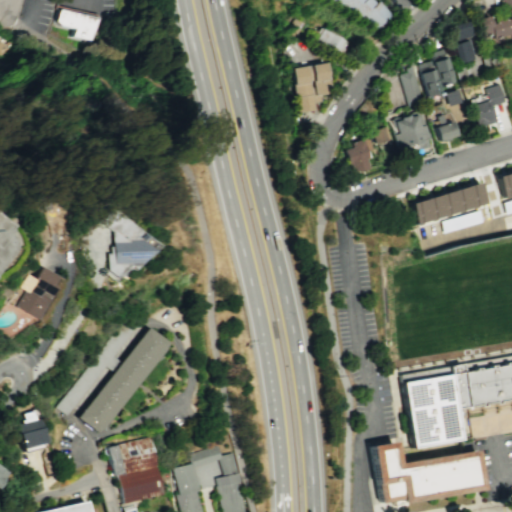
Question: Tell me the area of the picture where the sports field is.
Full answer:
The sports field is in the right part of the image.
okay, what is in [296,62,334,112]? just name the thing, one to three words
house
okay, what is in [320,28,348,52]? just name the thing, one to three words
building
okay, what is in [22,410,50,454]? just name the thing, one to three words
house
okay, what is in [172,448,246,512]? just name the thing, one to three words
building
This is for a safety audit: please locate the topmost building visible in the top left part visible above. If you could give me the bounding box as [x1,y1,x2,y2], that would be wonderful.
[56,4,102,42]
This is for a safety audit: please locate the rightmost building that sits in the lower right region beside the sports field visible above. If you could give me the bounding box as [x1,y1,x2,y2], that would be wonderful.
[460,365,512,408]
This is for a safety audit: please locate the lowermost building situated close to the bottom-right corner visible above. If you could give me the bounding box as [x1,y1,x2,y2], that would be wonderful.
[380,444,491,504]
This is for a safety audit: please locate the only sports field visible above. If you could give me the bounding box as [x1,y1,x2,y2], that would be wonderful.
[395,234,512,370]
